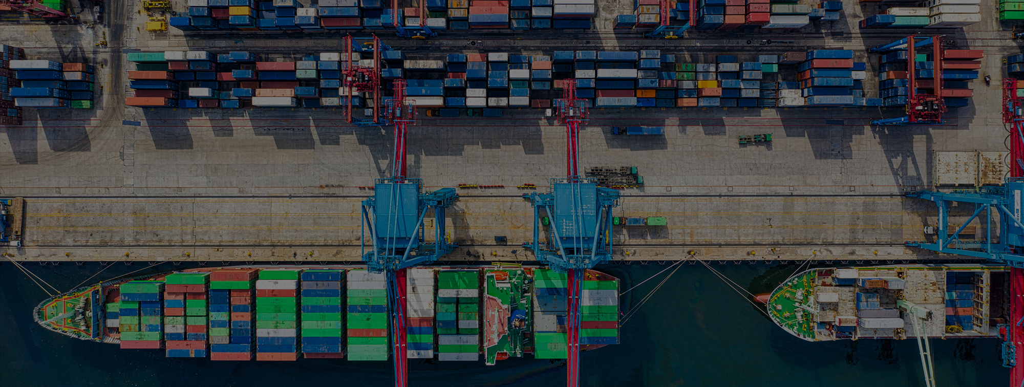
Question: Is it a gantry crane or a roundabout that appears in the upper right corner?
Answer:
gantry crane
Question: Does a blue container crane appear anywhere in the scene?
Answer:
Yes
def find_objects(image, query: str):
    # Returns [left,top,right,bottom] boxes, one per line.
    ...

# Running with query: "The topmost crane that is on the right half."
[641,0,698,40]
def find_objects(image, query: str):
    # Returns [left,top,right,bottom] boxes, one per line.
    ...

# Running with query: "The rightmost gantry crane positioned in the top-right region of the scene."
[867,30,944,128]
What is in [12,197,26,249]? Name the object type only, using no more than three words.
vehicle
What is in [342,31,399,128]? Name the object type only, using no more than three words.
container crane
